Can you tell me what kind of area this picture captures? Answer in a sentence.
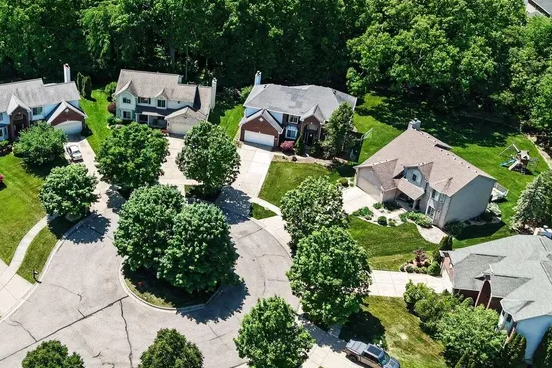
This looks like a residential area.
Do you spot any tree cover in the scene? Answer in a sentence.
Yes, there's tree cover in this view.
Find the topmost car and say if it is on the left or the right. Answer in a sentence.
The topmost car appears in the left half of the scene.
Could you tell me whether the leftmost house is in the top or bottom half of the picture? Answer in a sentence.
You can find the leftmost house in the top half.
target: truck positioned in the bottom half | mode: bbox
[345,339,404,368]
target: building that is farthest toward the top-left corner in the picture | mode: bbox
[0,58,92,142]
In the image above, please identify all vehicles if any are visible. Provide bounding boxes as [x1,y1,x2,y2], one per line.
[345,339,404,368]
[65,139,85,159]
